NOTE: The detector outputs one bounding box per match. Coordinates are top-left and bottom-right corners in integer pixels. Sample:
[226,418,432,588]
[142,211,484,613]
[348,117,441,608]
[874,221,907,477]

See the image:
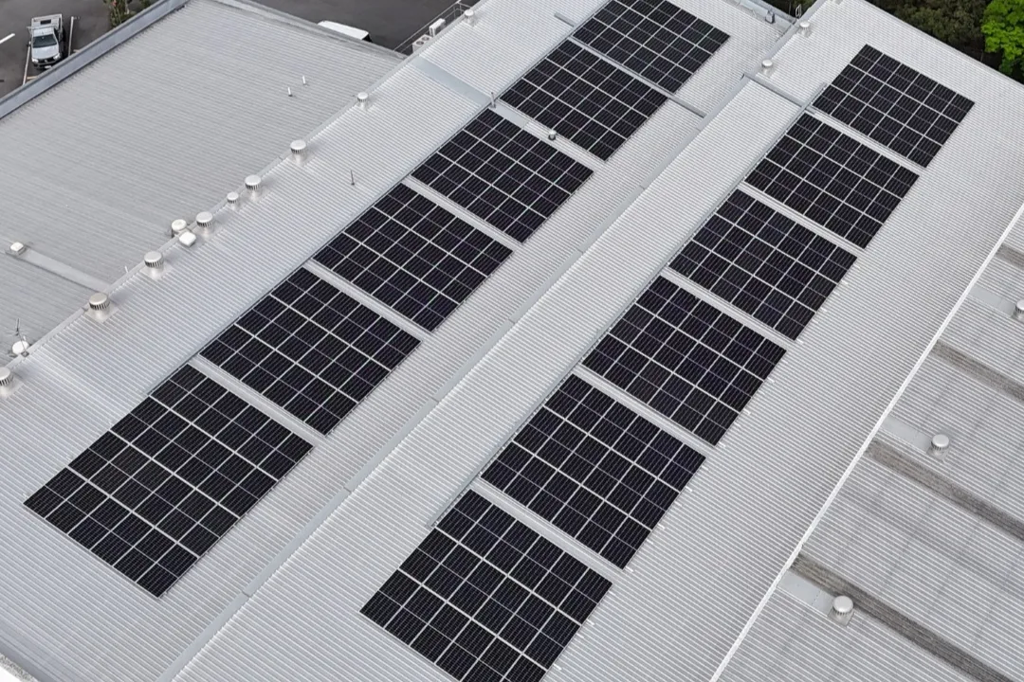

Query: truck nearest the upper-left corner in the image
[27,11,66,68]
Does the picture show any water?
No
